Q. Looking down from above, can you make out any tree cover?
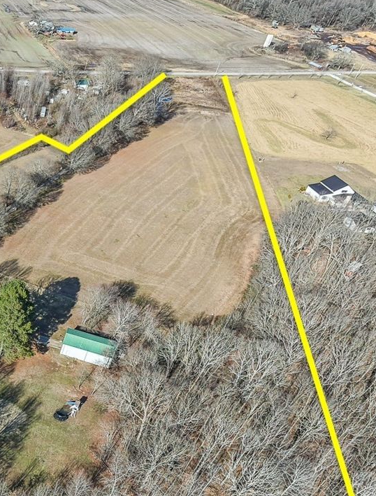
Yes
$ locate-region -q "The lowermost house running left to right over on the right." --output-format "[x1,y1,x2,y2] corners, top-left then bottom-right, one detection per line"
[301,176,357,202]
